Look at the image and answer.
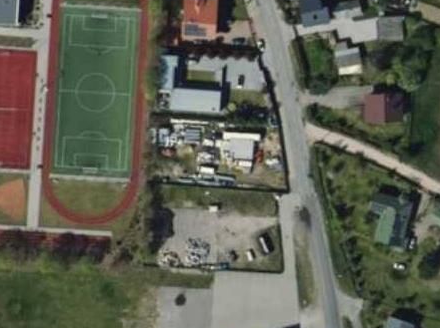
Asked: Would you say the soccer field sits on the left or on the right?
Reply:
left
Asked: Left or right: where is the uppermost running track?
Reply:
left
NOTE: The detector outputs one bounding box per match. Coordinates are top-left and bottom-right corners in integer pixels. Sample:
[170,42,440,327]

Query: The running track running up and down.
[44,0,149,227]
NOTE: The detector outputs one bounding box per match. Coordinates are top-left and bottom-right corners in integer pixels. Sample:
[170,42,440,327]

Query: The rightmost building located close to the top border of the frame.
[377,16,404,41]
